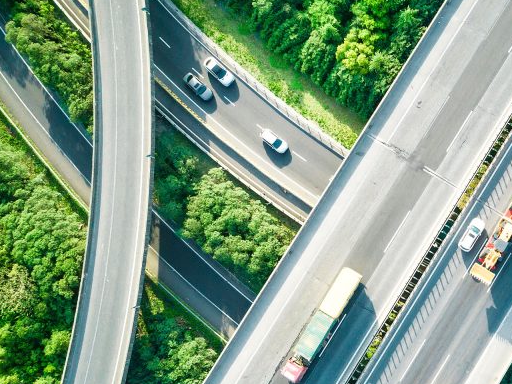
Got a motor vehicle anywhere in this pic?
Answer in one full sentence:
Yes, there's a motor vehicle here.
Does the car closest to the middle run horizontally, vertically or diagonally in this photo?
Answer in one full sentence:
The car closest to the middle is laid out diagonally.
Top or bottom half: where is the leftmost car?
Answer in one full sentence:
The leftmost car is in the top half of the image.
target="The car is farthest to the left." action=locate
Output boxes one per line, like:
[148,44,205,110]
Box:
[182,72,215,102]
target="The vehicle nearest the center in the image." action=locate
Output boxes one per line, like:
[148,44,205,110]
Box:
[259,127,290,155]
